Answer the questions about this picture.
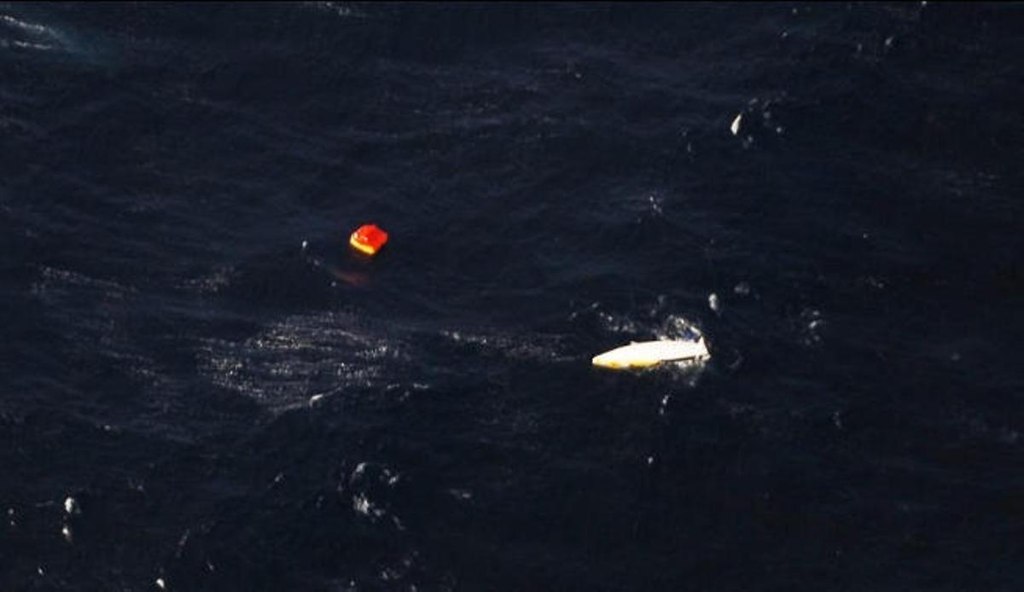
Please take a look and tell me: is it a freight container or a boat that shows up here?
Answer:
boat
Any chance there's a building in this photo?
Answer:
No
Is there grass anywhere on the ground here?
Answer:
No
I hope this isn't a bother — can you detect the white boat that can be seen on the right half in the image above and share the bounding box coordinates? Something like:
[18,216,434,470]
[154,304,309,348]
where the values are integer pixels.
[593,333,710,367]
